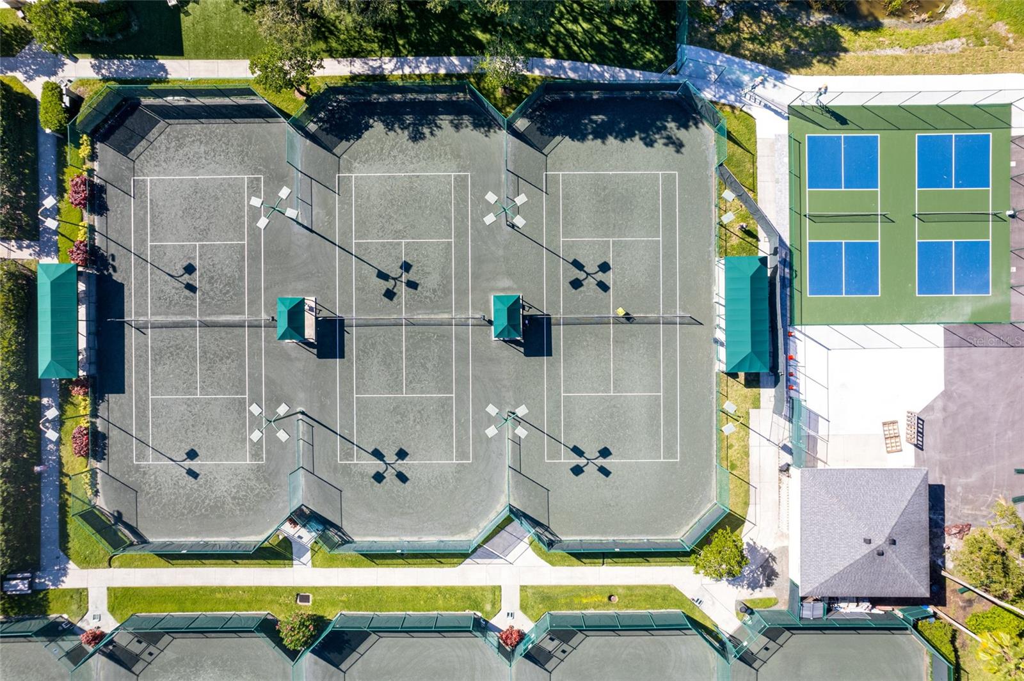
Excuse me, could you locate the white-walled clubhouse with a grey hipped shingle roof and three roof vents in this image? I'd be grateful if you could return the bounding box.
[791,466,930,598]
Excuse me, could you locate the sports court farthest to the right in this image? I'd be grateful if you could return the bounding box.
[898,104,1011,324]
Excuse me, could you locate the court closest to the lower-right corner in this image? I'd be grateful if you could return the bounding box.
[718,611,926,681]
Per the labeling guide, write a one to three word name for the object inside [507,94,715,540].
tennis court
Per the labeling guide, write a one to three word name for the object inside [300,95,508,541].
tennis court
